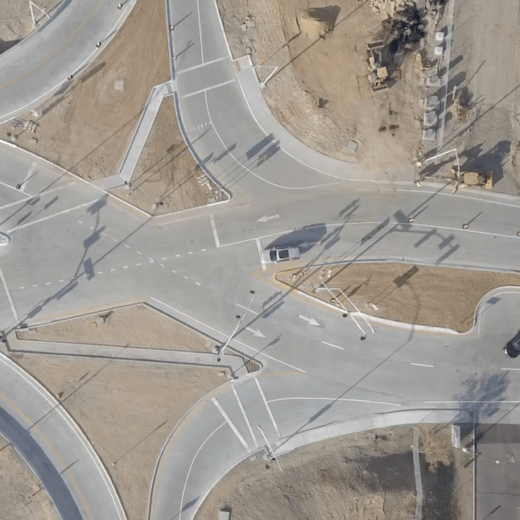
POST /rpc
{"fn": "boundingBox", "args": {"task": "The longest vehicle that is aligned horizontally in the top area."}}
[419,165,499,194]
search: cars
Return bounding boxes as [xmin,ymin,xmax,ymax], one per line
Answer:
[501,331,520,359]
[259,246,299,265]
